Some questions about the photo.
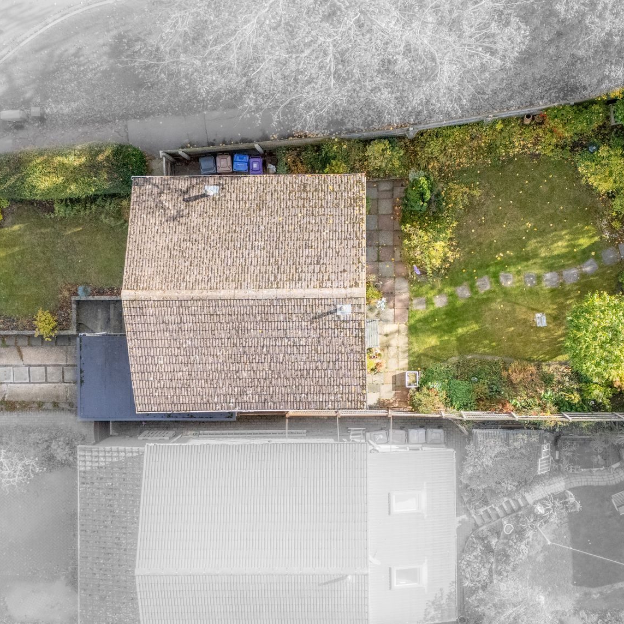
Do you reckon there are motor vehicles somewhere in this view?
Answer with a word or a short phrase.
No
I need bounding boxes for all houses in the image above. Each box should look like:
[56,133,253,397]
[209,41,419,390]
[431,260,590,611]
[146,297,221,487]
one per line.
[135,439,370,624]
[121,171,368,416]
